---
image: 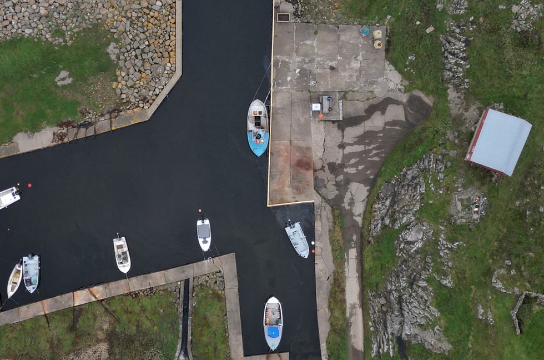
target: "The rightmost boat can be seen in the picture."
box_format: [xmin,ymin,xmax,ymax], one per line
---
[286,217,309,258]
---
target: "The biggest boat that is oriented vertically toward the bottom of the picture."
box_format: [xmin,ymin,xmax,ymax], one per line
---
[263,296,283,351]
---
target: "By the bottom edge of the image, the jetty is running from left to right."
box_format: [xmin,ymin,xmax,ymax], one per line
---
[0,252,289,360]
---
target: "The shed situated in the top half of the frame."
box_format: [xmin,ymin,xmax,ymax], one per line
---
[463,107,532,178]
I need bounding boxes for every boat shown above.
[8,258,23,298]
[286,217,309,258]
[113,229,131,273]
[23,254,40,294]
[263,296,283,351]
[197,211,211,252]
[0,187,26,208]
[247,100,269,157]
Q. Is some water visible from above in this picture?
Yes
